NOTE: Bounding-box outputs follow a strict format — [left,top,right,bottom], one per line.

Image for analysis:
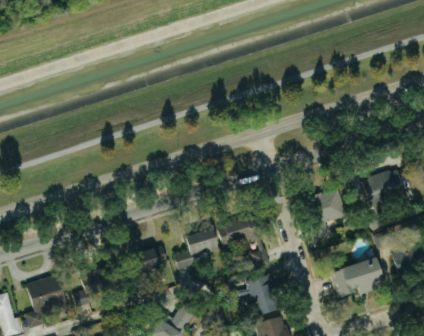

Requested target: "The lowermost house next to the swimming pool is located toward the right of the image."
[328,258,384,298]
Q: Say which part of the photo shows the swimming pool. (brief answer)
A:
bottom right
